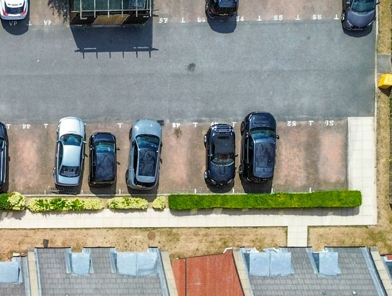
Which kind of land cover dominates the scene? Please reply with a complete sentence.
For the most part, this view shows paved ground.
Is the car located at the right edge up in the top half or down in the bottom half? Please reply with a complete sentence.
The car located at the right edge is in the top half of the image.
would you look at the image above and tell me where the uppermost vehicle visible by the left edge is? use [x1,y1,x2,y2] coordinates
[0,0,29,21]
